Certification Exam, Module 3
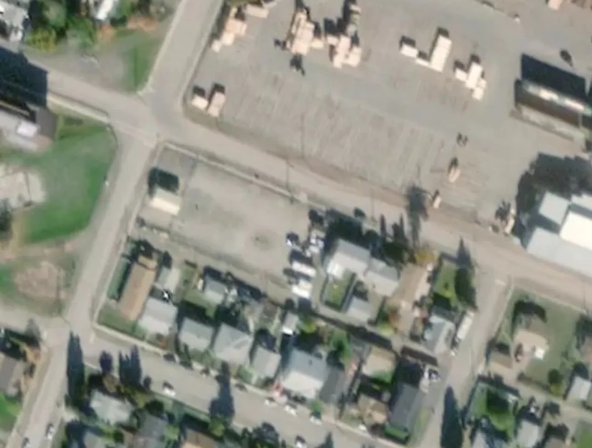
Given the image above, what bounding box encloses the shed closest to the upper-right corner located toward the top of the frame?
[516,82,592,130]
